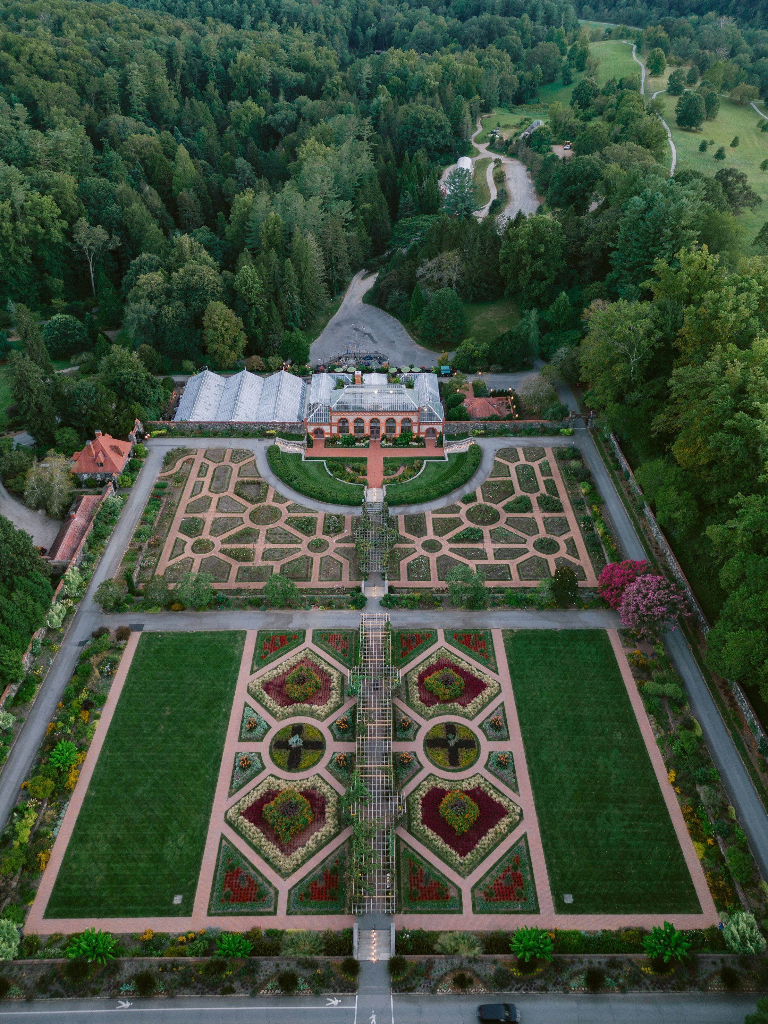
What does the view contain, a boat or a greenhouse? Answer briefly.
greenhouse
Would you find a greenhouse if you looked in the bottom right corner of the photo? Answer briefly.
No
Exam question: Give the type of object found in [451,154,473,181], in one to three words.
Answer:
house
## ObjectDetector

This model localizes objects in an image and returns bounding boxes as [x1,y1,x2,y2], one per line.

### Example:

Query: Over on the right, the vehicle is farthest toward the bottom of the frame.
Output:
[476,1000,521,1024]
